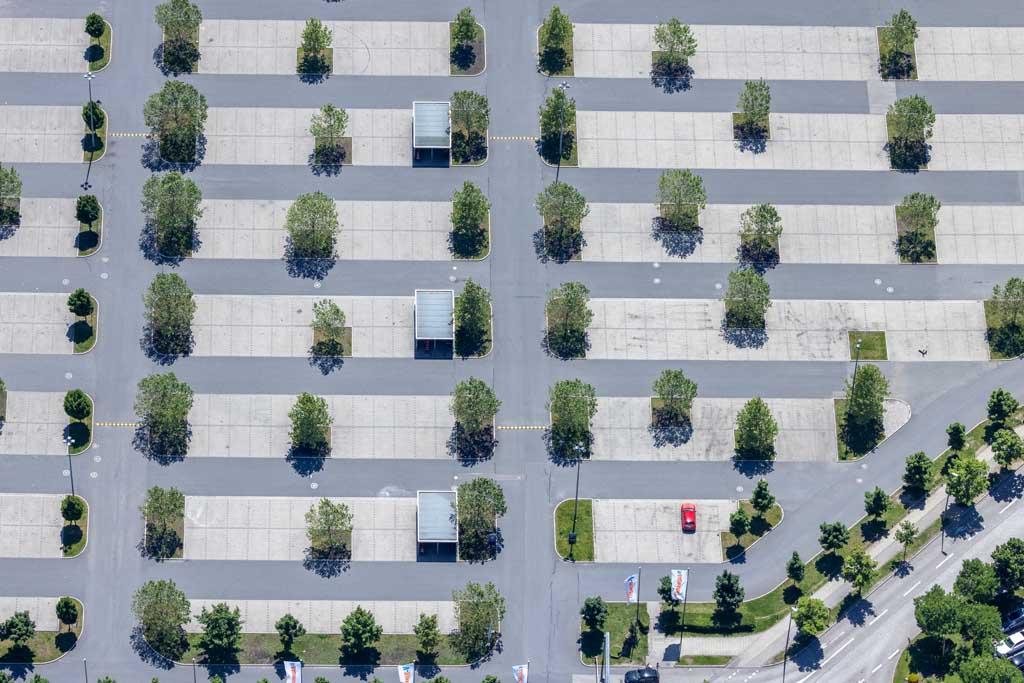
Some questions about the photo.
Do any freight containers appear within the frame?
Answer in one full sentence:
No, the photo shows no freight container.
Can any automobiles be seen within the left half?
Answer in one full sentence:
No, looking within the left half, there is no automobile.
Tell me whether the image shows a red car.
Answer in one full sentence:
Yes, the image includes a red car.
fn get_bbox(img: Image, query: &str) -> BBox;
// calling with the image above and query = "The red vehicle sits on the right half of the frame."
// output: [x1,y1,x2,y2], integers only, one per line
[681,506,697,533]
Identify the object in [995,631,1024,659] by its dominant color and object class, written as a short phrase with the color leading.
white car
